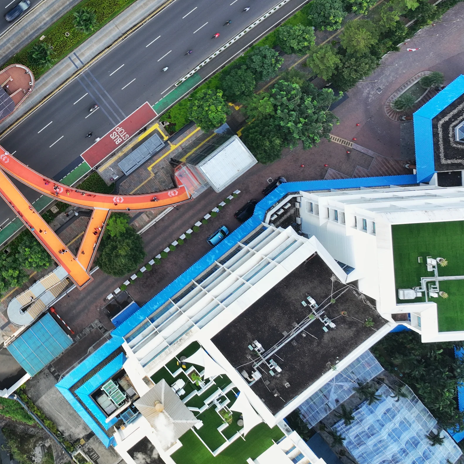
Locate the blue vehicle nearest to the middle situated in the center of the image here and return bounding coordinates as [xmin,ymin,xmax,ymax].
[206,225,229,247]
